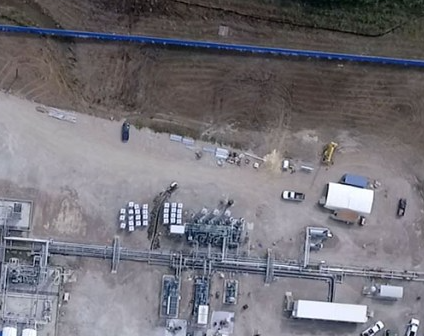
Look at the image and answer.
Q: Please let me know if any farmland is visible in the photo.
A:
Yes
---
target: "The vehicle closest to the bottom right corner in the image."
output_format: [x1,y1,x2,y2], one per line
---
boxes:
[406,320,418,336]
